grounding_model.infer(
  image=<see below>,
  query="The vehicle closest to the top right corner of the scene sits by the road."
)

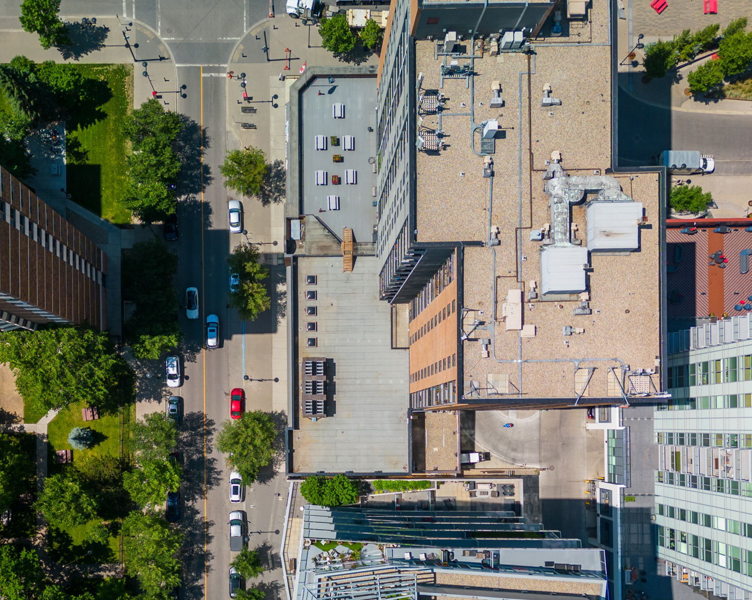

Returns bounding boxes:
[659,152,712,176]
